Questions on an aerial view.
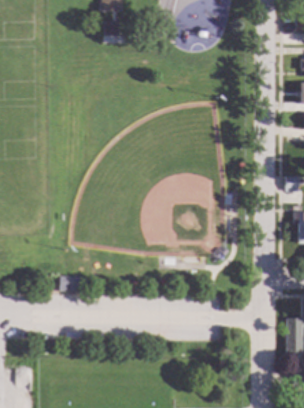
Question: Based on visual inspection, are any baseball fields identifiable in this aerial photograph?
Yes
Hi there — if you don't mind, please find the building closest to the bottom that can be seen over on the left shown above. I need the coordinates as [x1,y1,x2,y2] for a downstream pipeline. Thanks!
[16,366,32,386]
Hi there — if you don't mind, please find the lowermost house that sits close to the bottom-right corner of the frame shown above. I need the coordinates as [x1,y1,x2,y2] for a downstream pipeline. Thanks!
[285,318,304,353]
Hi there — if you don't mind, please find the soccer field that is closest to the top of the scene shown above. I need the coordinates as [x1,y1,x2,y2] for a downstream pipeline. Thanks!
[0,0,43,43]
